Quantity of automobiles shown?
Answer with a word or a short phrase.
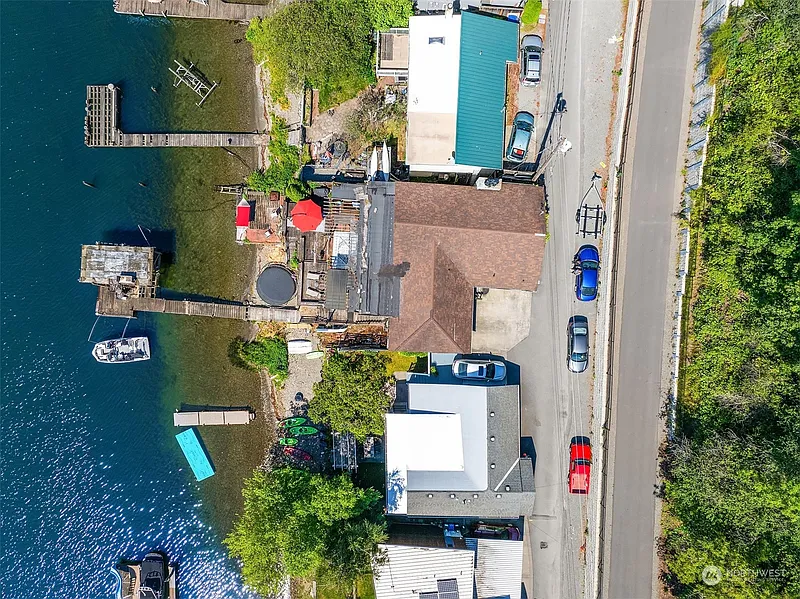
7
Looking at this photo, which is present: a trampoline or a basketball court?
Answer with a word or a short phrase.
trampoline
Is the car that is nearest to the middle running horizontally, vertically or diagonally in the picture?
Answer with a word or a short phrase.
horizontally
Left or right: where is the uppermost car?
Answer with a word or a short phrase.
right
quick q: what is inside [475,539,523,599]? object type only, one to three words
building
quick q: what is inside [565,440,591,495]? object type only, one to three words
car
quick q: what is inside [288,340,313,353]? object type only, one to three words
boat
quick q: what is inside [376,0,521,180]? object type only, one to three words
house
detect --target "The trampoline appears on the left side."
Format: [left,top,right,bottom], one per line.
[255,264,297,305]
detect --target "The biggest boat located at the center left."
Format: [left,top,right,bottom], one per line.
[91,336,155,362]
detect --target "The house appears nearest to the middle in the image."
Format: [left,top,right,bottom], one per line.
[332,180,547,356]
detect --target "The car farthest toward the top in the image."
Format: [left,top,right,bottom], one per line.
[519,35,546,92]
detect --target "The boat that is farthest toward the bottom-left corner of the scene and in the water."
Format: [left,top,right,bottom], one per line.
[113,559,141,599]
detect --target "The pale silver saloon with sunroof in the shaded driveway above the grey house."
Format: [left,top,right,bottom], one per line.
[451,357,507,383]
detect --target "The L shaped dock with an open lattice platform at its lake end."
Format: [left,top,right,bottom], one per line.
[82,86,271,155]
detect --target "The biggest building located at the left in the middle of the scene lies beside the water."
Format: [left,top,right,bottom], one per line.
[79,244,302,322]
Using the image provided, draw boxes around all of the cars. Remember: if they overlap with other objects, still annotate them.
[573,248,601,303]
[451,357,507,383]
[564,316,591,373]
[473,519,523,542]
[505,109,537,167]
[565,440,591,495]
[519,35,546,92]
